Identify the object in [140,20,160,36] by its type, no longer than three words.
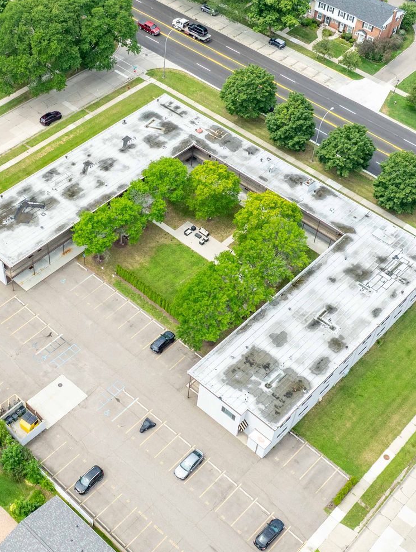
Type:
vehicle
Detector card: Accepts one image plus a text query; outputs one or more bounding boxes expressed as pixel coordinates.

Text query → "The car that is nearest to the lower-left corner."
[71,464,106,495]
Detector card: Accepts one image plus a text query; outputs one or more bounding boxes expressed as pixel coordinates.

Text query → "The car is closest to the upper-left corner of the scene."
[39,111,63,127]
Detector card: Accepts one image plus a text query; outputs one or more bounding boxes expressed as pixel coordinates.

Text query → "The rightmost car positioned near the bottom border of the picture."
[254,517,286,551]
